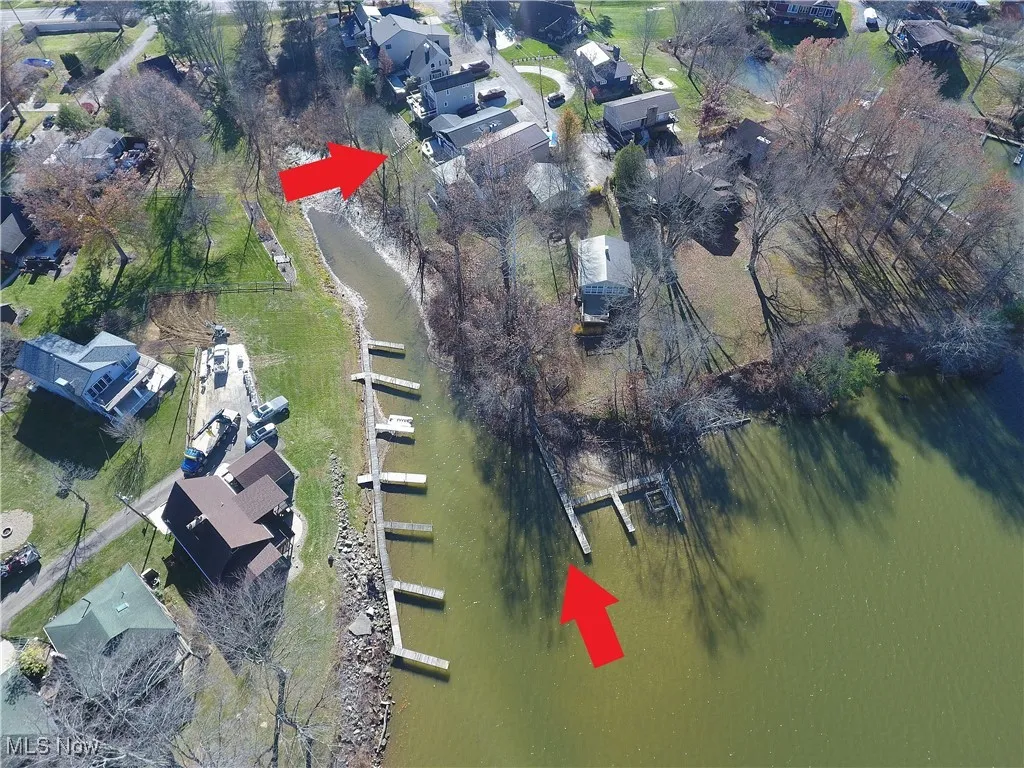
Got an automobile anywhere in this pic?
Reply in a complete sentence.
Yes, there's an automobile here.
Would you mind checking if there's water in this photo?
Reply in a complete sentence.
Yes, there's water in this view.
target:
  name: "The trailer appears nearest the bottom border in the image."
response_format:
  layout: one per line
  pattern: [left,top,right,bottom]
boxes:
[0,539,46,586]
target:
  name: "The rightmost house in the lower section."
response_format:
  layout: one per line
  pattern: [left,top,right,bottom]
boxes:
[169,441,296,599]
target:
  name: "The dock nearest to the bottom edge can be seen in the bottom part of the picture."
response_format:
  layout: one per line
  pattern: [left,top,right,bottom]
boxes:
[386,642,452,677]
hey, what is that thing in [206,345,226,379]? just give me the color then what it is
white vehicle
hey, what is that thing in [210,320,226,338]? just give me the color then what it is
gray work vehicle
